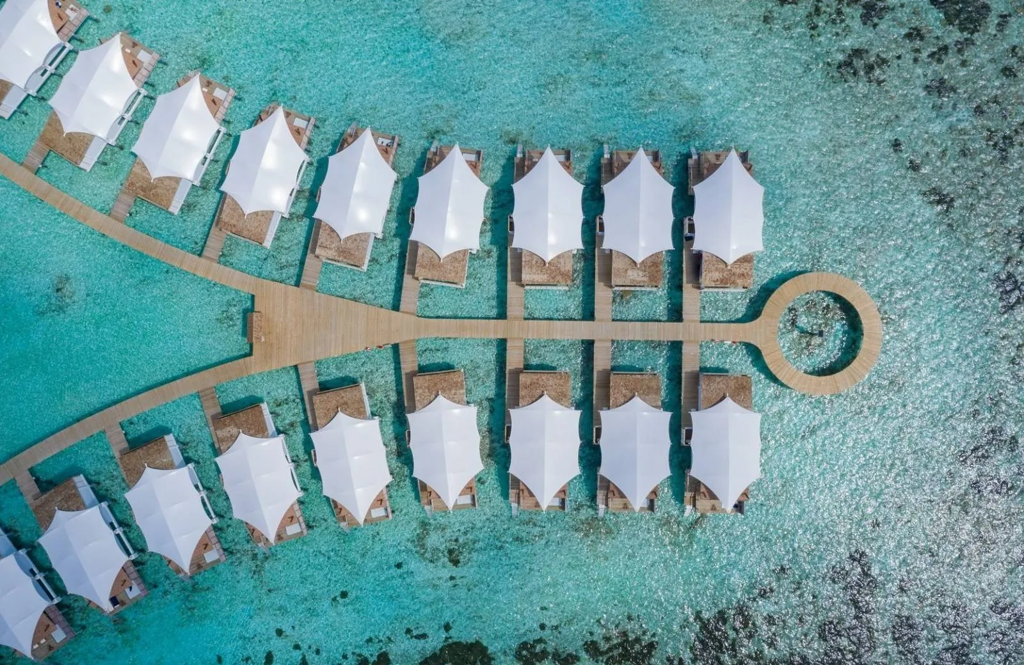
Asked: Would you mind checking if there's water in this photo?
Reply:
Yes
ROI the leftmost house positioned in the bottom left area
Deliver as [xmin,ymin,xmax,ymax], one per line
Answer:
[0,517,87,661]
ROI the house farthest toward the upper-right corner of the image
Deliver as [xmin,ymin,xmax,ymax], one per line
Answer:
[682,147,766,292]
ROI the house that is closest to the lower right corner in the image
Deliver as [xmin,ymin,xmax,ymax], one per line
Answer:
[679,370,763,514]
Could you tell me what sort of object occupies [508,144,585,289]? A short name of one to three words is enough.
house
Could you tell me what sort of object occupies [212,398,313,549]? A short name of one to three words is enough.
house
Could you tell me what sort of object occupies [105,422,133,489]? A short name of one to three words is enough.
pier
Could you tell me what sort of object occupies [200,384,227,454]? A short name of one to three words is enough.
pier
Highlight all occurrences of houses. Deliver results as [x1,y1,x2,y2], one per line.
[212,398,313,549]
[682,147,766,292]
[307,379,395,529]
[0,517,87,661]
[38,28,170,175]
[405,367,486,513]
[596,147,676,291]
[679,370,763,514]
[0,0,100,124]
[508,144,585,289]
[311,123,402,273]
[407,142,490,289]
[31,469,158,617]
[506,368,583,513]
[126,69,243,218]
[120,430,231,579]
[217,100,320,251]
[594,369,673,513]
